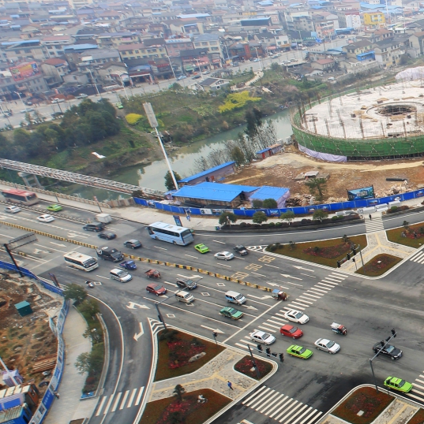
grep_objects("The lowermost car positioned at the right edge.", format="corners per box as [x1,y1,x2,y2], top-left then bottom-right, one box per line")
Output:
[381,377,414,395]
